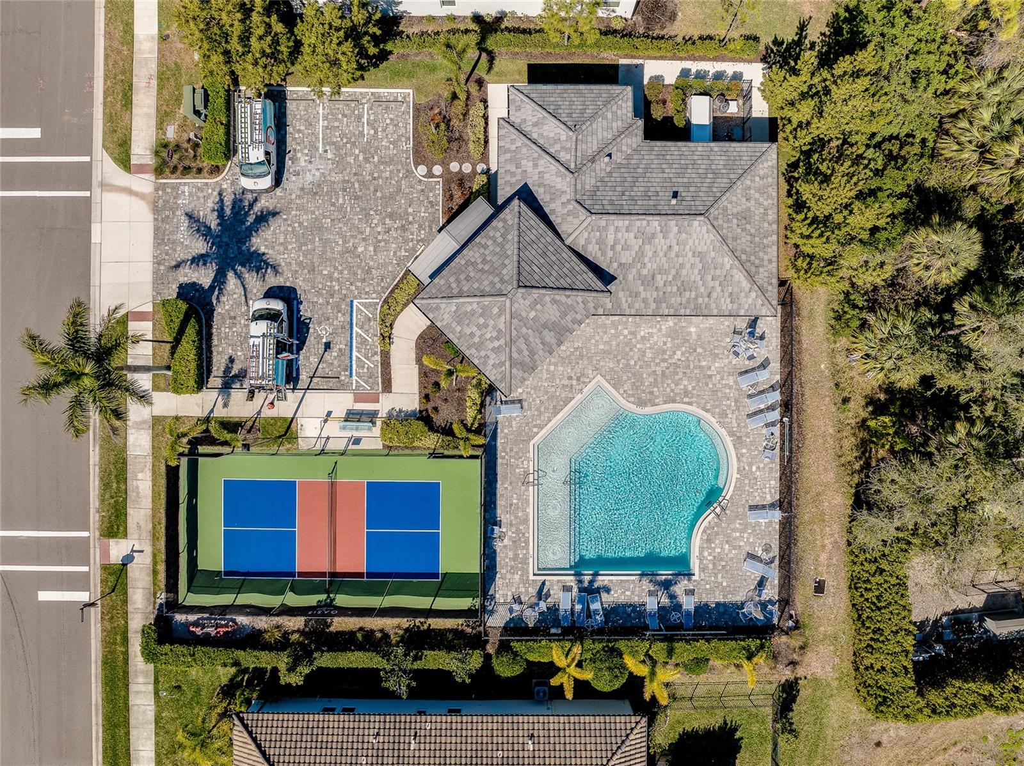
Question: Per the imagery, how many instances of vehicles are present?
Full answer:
The number of vehicles here is 2.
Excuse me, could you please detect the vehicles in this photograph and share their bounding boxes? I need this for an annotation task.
[236,95,280,195]
[246,296,304,399]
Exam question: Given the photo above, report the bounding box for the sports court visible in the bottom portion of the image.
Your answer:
[178,451,483,606]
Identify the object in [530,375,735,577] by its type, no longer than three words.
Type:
swimming pool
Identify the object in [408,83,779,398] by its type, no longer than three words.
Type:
building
